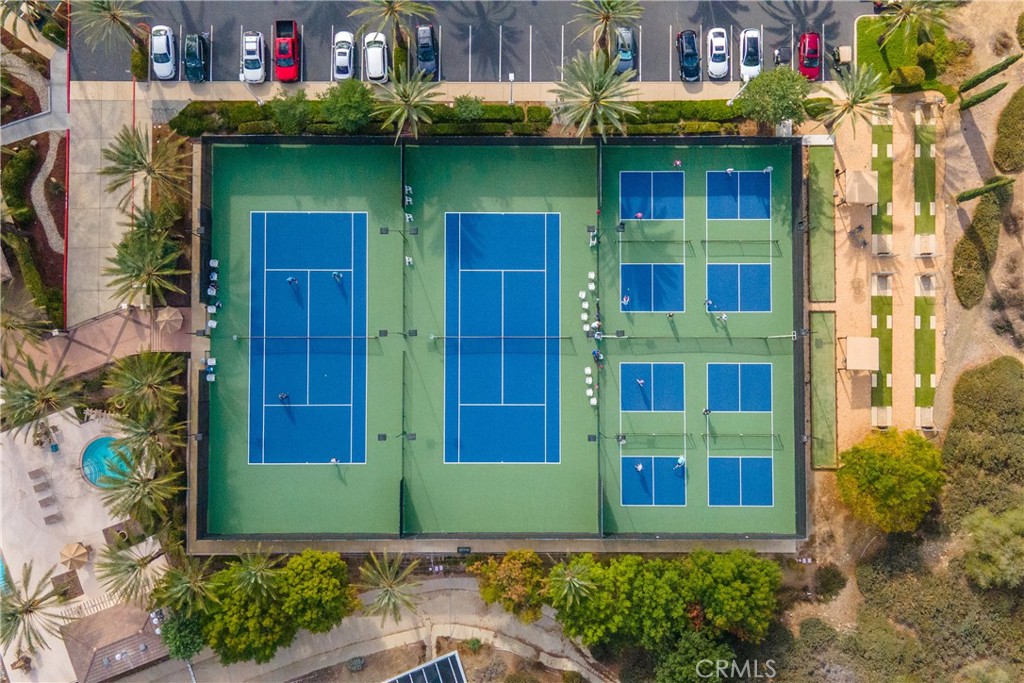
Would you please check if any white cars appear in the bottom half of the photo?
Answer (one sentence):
No, in the bottom half of the photo there is no white car.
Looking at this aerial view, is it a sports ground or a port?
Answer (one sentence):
This looks like a sports ground.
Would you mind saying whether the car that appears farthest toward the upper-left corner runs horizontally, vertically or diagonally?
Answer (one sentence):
The car that appears farthest toward the upper-left corner is oriented vertically.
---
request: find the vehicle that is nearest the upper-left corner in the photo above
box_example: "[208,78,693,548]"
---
[150,26,176,81]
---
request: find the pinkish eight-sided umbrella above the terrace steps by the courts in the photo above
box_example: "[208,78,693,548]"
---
[157,306,184,333]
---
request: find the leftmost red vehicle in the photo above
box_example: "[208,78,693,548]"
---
[272,20,299,84]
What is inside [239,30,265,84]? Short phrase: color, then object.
white car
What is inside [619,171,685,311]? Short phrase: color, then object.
blue sports court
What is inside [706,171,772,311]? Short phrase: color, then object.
blue sports court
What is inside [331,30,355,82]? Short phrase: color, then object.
white car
